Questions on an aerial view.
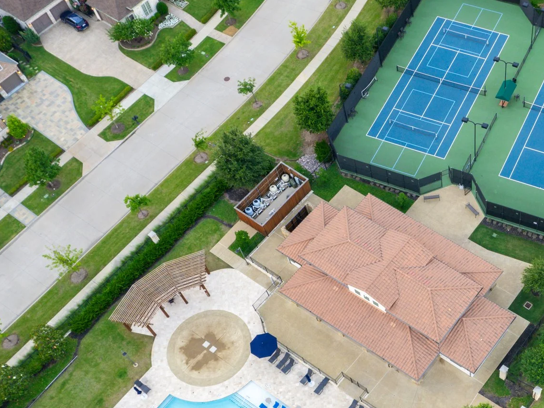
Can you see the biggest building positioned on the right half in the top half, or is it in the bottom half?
bottom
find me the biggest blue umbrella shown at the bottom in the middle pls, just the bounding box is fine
[250,333,279,360]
